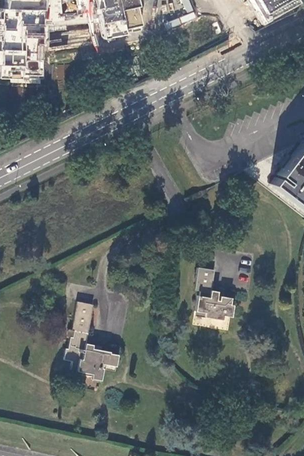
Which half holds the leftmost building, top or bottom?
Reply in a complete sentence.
The leftmost building is in the top half of the image.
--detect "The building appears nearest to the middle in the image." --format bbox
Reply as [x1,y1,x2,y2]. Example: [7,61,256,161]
[196,268,214,291]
